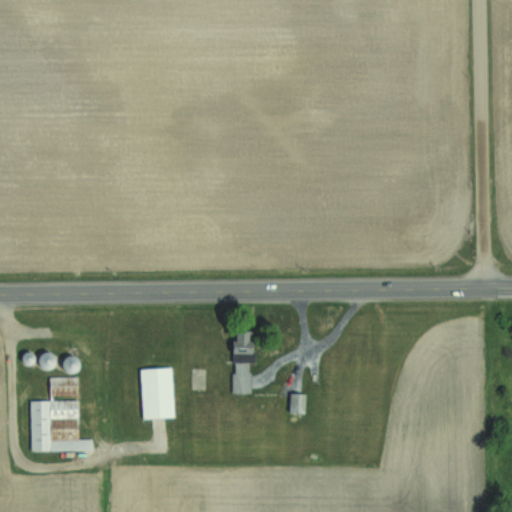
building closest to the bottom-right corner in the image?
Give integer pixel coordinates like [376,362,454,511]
[290,394,306,415]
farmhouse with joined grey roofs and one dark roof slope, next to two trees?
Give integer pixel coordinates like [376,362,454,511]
[232,332,255,394]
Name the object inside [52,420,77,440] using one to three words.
shed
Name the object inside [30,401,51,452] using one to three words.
shed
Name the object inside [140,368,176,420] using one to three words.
barn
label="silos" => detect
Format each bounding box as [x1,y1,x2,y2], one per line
[22,352,36,367]
[62,356,82,375]
[39,353,58,371]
